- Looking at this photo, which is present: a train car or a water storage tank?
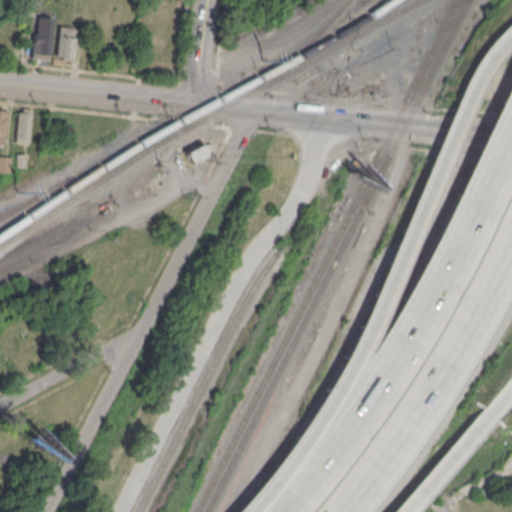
train car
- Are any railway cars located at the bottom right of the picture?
No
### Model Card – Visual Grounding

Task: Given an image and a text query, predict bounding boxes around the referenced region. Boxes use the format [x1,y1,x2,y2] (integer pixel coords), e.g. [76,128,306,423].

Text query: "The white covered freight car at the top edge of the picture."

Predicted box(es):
[368,0,412,21]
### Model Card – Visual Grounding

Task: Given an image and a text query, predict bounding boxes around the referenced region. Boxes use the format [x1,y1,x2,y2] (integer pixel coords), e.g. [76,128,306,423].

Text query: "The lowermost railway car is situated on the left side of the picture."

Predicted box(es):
[0,212,34,241]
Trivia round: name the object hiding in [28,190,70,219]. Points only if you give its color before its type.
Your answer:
white rail car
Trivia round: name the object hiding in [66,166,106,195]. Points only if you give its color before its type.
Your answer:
white rail car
